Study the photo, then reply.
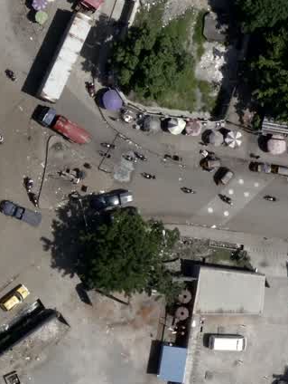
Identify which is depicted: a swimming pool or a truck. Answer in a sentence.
I can see a truck in this picture.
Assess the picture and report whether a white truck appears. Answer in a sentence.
Yes, there is a white truck in the image.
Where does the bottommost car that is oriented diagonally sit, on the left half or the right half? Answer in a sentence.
The bottommost car that is oriented diagonally appears in the left half of the scene.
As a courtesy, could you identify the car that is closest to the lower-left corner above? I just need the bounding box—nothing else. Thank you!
[0,281,33,313]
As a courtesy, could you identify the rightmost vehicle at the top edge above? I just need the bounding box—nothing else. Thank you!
[35,0,101,103]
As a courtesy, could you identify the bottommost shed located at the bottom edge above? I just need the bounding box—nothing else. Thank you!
[154,343,189,383]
